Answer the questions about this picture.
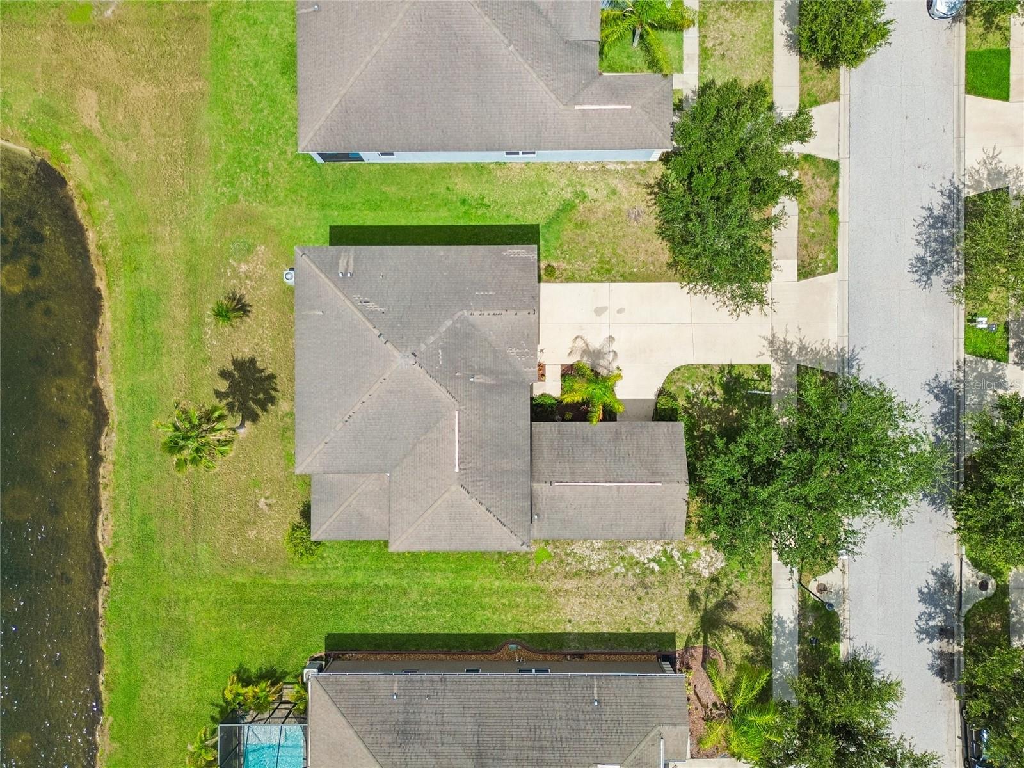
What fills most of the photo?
grass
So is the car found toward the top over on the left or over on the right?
right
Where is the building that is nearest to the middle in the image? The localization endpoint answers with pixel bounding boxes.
[294,244,691,553]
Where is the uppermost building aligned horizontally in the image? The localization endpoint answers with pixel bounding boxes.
[297,0,673,163]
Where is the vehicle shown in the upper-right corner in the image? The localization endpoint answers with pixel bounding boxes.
[924,0,961,23]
